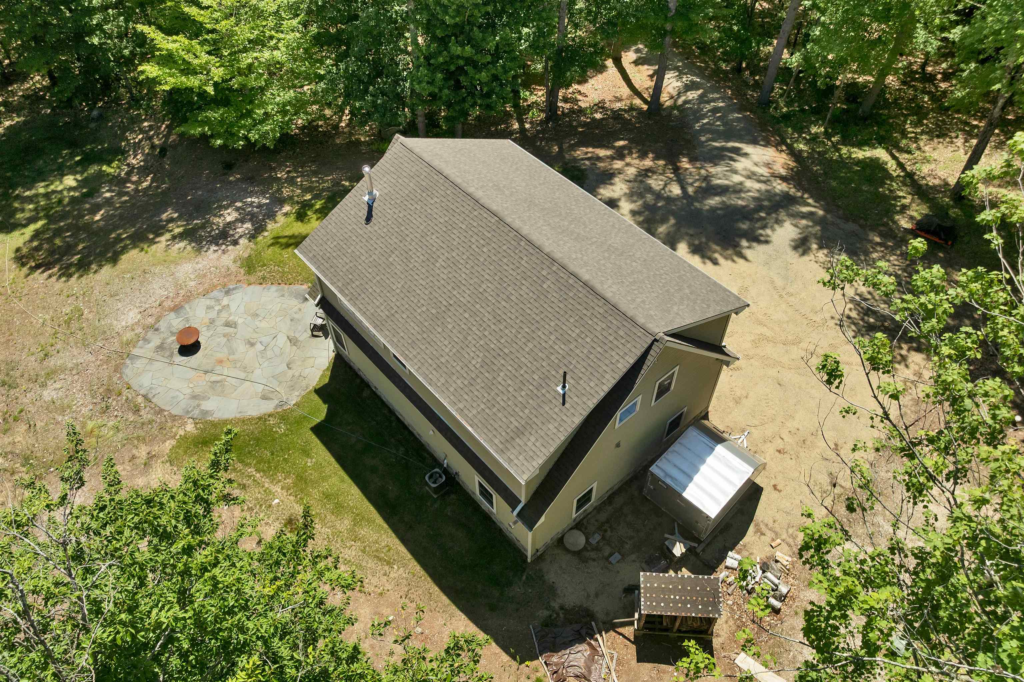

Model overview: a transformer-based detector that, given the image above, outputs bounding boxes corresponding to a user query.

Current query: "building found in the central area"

[295,134,750,568]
